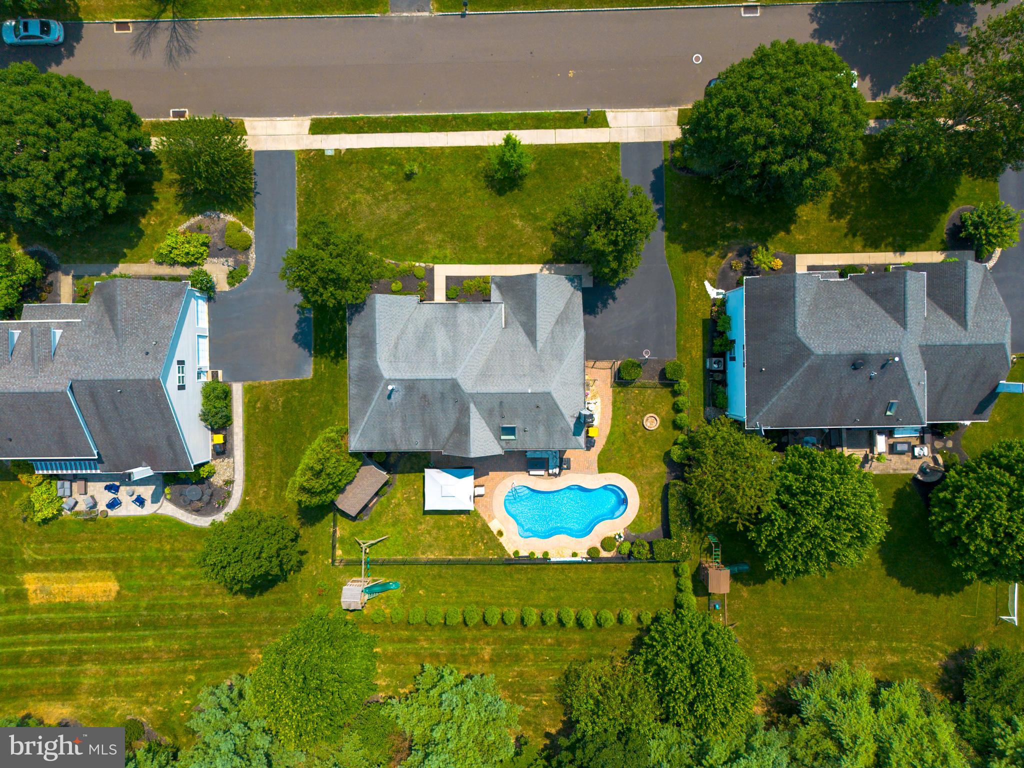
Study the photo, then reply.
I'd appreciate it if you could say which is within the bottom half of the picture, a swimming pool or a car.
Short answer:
swimming pool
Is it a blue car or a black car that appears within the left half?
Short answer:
blue car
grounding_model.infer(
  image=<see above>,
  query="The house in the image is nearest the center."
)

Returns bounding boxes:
[346,270,595,457]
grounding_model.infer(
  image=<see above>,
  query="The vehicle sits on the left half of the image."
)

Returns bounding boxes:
[4,16,66,50]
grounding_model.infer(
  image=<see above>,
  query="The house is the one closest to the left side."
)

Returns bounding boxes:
[0,274,221,485]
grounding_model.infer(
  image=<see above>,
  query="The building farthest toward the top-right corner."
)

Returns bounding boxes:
[724,257,1024,429]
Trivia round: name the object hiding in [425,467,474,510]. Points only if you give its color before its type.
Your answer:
white gazebo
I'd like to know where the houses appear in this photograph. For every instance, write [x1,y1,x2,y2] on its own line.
[0,274,221,485]
[346,270,595,457]
[724,257,1024,429]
